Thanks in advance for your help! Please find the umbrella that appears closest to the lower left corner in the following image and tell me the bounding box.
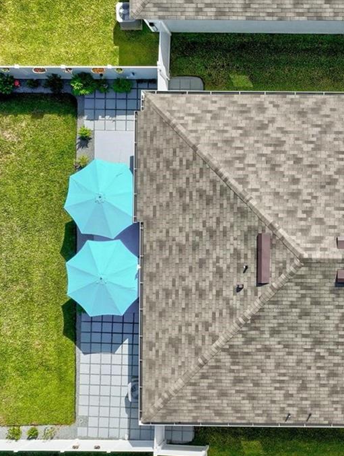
[68,241,140,316]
